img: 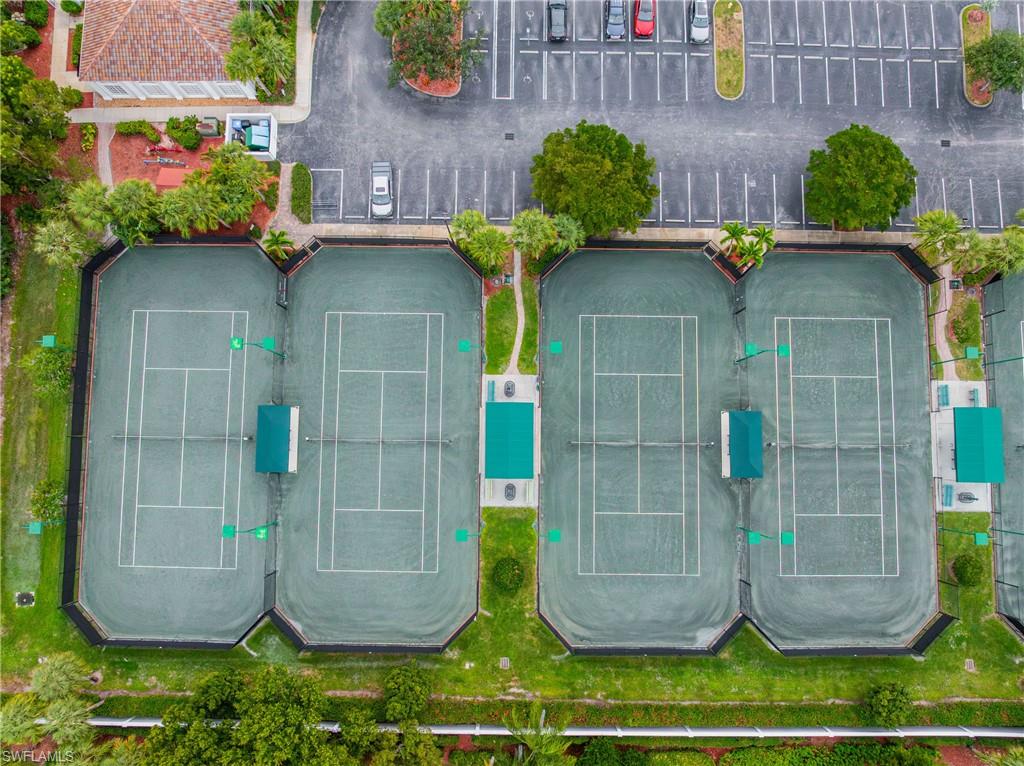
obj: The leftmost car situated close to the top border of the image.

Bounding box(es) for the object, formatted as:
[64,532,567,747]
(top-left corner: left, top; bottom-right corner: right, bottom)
[548,0,570,42]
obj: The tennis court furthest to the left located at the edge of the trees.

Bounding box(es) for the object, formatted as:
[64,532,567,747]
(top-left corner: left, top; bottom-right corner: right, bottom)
[72,243,287,643]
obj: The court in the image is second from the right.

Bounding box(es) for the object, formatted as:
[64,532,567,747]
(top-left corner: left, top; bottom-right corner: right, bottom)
[736,250,941,651]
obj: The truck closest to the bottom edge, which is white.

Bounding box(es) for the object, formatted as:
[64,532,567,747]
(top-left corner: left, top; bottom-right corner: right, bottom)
[369,162,394,220]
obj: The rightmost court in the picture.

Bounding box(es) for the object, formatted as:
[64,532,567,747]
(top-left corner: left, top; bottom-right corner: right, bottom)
[980,253,1024,646]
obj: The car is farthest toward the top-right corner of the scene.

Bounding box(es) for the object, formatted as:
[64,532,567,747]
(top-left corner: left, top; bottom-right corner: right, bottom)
[688,0,712,44]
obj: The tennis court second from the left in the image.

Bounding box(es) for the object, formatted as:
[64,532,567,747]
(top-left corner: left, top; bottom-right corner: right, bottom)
[275,245,484,645]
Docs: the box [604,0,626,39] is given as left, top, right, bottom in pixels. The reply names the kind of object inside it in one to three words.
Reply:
car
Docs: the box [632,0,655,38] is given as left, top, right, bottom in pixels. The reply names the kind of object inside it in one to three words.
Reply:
car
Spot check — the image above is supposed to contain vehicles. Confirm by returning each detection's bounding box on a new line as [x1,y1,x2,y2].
[369,162,394,220]
[632,0,655,38]
[604,0,626,39]
[548,0,570,42]
[688,0,712,44]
